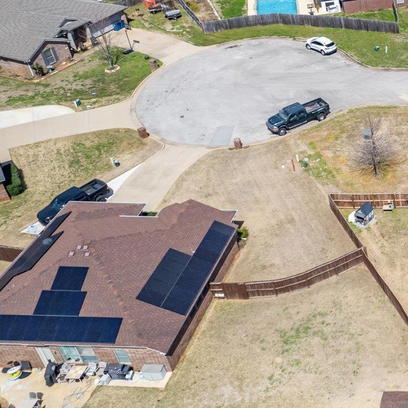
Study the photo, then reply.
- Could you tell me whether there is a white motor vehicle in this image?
Yes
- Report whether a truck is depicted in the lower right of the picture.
No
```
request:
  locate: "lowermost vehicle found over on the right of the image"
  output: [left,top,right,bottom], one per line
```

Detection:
[269,102,326,133]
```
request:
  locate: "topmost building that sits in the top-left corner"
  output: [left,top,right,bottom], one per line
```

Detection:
[0,0,130,80]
